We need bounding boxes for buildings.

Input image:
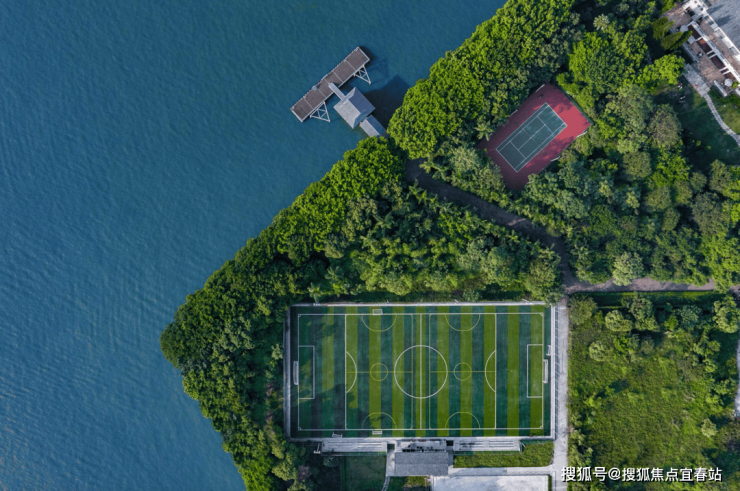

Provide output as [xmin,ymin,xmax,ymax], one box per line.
[395,448,449,476]
[677,0,740,93]
[334,87,375,129]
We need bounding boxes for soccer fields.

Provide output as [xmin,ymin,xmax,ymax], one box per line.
[290,305,551,438]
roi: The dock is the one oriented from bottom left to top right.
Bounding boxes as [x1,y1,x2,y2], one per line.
[289,46,371,123]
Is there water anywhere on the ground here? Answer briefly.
Yes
